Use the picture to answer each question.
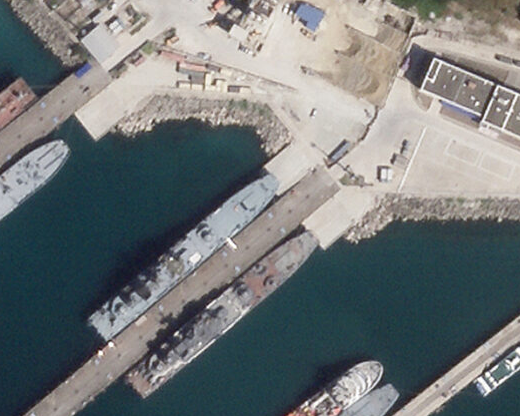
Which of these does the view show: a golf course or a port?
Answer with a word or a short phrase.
port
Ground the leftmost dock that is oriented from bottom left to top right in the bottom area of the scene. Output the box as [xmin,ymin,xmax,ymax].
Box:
[25,165,340,416]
